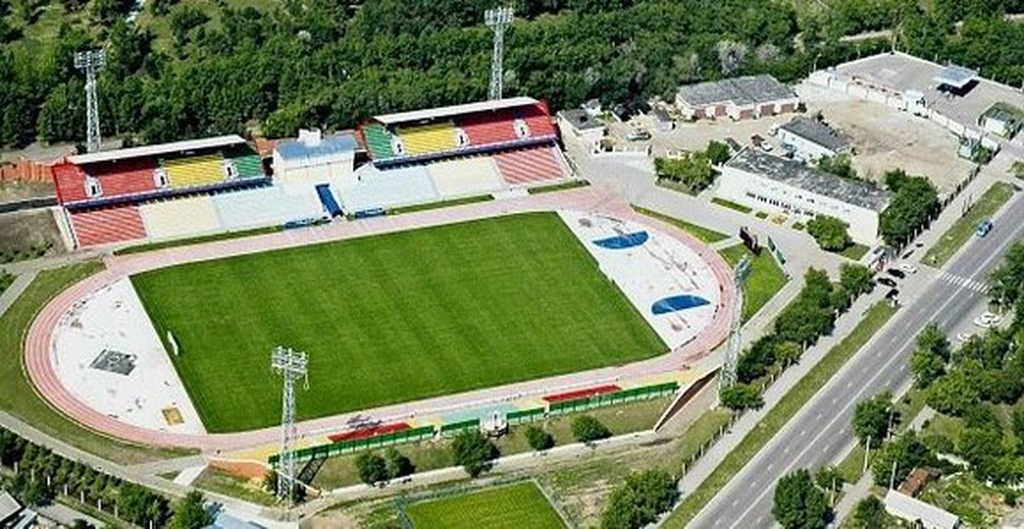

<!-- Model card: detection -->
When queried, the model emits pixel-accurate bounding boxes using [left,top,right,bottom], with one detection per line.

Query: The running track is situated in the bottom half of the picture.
[22,202,745,451]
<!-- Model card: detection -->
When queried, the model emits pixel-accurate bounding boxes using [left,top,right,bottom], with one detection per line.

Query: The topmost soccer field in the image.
[130,211,670,432]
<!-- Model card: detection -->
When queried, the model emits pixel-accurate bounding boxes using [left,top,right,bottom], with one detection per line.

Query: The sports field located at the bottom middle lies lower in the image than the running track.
[412,481,568,529]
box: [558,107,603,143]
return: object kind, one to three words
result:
shed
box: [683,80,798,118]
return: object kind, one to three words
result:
building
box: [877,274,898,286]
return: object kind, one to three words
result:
vehicle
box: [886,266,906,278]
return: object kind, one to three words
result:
vehicle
